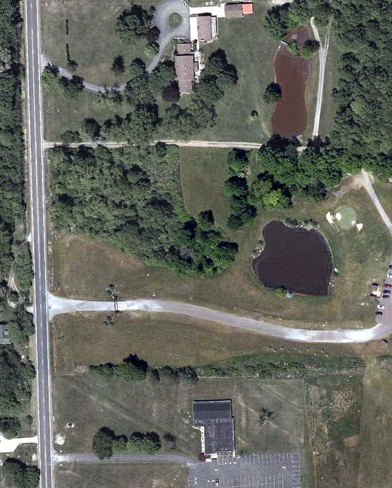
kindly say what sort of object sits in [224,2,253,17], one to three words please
building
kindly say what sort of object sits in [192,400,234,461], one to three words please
building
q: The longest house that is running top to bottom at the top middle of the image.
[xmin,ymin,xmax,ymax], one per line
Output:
[174,37,199,93]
